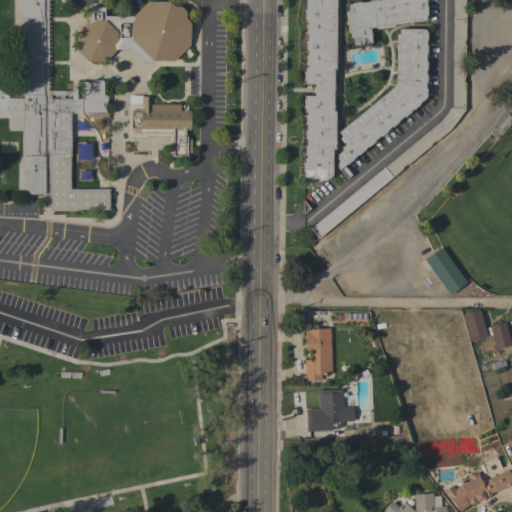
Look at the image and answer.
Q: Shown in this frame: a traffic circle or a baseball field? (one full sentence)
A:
Looking from above, you can make out a baseball field.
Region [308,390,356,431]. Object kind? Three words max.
house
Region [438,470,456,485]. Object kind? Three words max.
swimming pool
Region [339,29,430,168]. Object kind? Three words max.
building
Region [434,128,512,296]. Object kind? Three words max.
sports field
